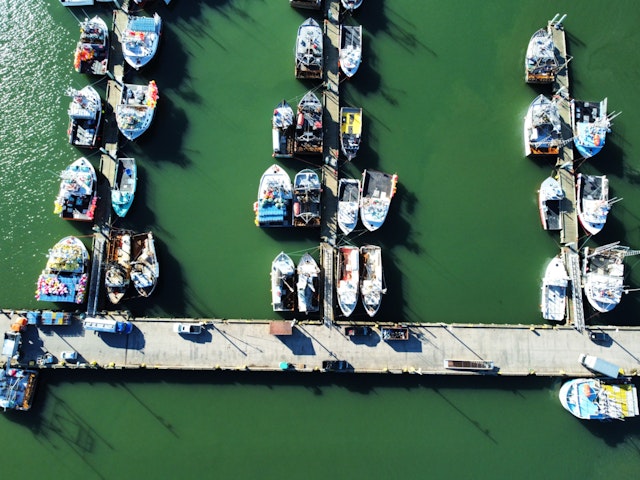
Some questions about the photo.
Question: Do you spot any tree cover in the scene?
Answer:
No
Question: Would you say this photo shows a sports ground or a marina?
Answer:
marina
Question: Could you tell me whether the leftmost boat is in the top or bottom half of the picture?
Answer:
bottom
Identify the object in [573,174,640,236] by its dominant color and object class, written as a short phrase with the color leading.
white boat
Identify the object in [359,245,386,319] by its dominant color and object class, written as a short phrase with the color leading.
white boat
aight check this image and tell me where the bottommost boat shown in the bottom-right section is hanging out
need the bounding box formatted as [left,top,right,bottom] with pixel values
[558,376,640,424]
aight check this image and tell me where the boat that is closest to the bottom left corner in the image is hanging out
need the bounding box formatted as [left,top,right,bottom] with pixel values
[0,367,43,414]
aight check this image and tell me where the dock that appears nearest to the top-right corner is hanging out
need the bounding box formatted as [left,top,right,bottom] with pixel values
[548,22,570,90]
